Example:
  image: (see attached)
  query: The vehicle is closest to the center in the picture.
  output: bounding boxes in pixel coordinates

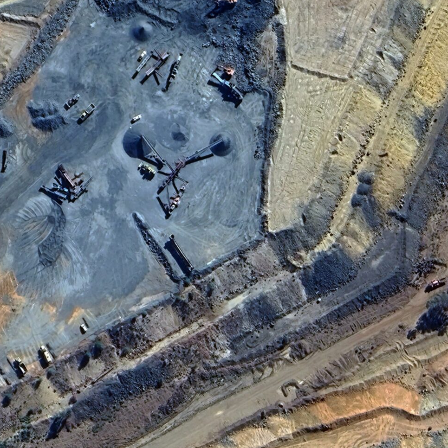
[169,234,194,269]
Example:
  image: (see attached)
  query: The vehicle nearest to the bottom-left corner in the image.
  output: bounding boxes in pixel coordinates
[14,356,28,374]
